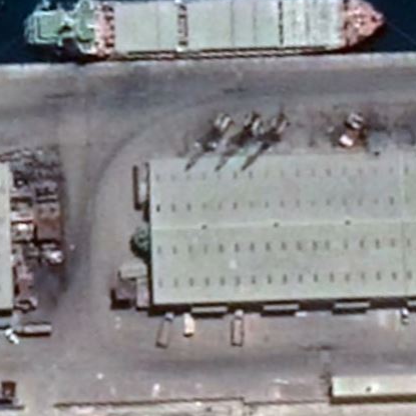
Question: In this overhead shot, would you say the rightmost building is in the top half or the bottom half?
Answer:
bottom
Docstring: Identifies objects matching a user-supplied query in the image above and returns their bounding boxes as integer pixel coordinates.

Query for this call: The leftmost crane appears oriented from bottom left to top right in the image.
[192,112,231,156]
